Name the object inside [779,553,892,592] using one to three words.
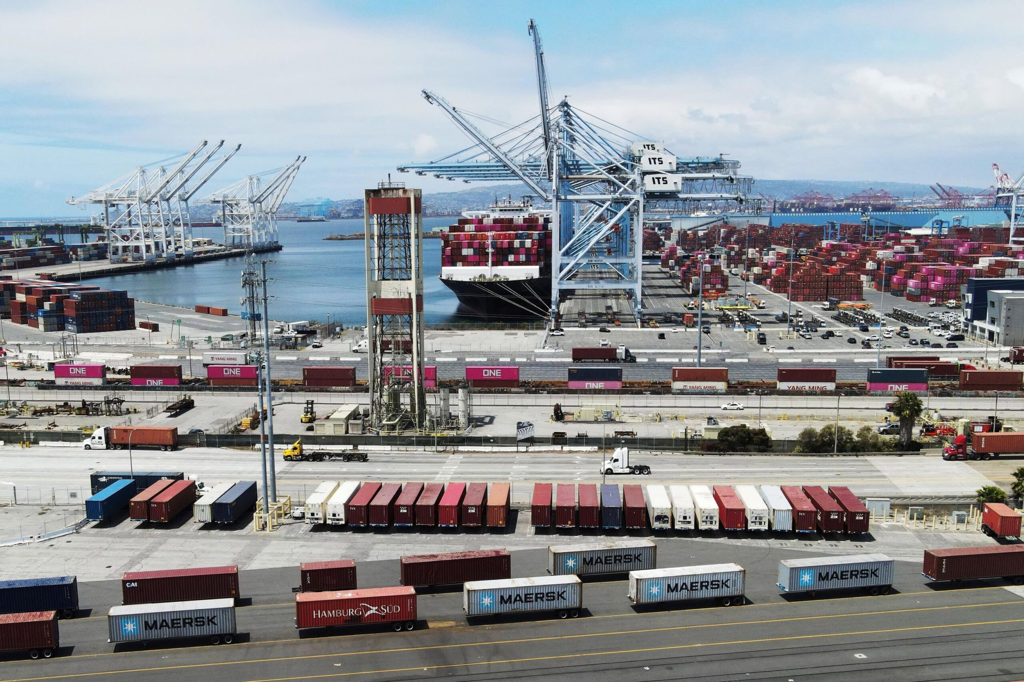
shipping container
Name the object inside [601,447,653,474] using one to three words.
truck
